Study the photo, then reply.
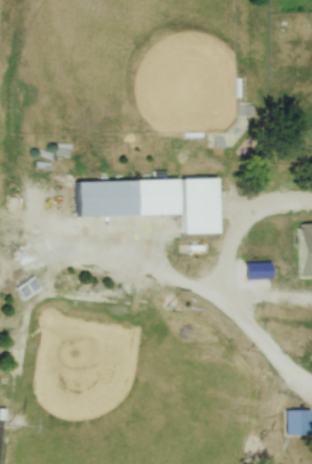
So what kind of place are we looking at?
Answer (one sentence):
What you see here is a sports ground.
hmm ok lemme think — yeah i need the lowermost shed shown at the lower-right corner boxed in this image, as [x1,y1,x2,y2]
[284,410,312,438]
